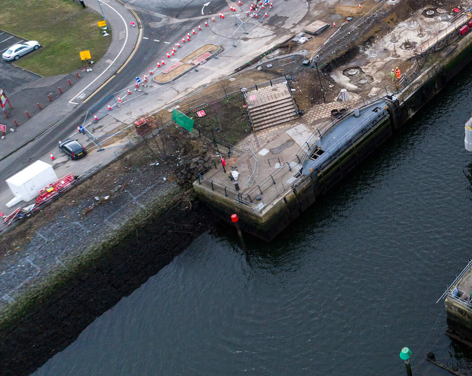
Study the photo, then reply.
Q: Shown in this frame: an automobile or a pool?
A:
automobile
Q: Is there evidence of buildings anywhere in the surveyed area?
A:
No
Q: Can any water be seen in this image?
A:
Yes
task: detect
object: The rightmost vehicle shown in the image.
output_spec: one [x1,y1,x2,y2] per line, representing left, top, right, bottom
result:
[58,140,90,164]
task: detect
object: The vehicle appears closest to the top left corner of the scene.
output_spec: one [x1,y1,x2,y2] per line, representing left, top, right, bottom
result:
[1,42,41,60]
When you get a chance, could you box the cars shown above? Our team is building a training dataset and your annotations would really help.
[1,42,41,60]
[58,140,90,164]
